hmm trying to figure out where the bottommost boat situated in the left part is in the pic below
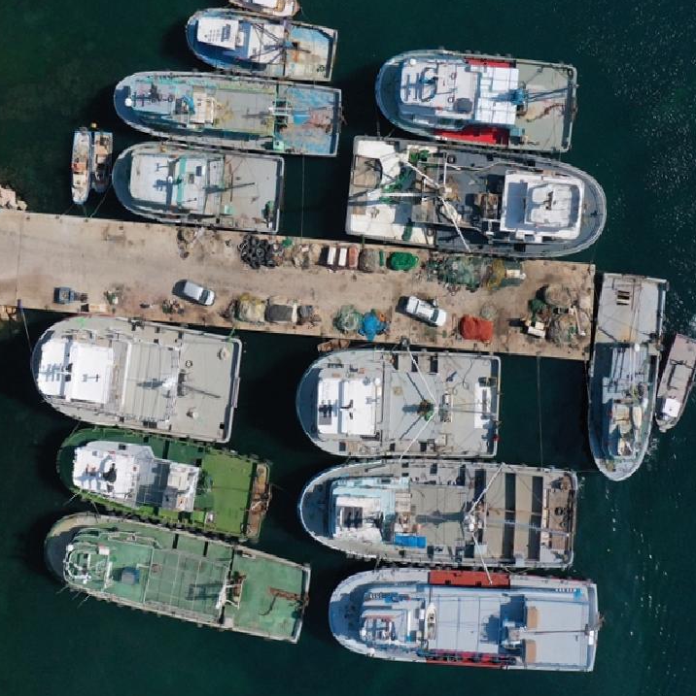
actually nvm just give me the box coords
[43,513,314,644]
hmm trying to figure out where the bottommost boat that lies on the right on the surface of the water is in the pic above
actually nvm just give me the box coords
[327,563,599,672]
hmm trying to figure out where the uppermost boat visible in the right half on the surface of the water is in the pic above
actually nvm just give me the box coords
[374,50,576,155]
